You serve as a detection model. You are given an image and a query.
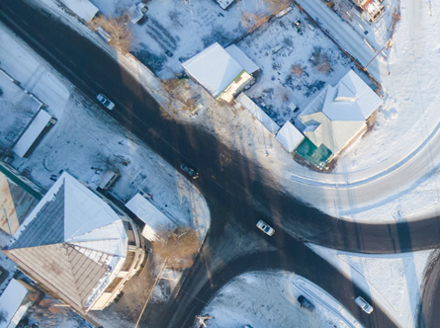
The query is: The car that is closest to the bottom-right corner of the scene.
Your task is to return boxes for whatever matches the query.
[354,297,372,313]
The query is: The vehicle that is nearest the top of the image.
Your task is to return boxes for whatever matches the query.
[94,93,112,108]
